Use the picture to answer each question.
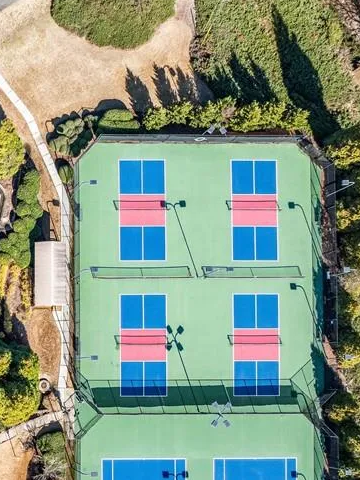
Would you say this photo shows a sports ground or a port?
sports ground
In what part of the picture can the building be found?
left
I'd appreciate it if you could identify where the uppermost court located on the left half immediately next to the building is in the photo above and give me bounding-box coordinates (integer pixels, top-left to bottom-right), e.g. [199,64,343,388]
[75,143,199,277]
